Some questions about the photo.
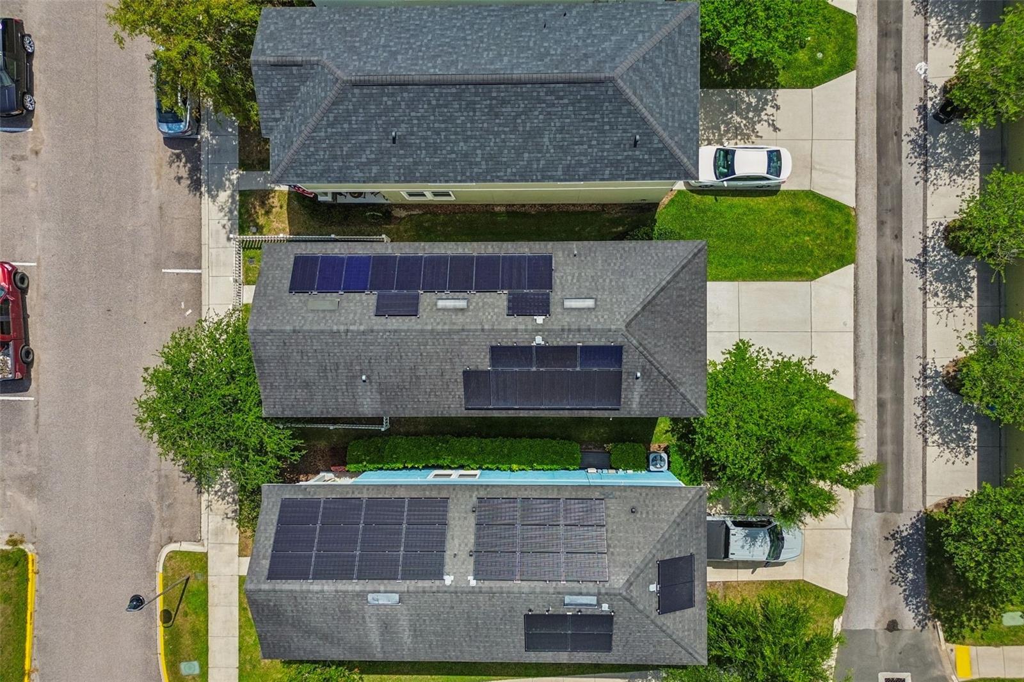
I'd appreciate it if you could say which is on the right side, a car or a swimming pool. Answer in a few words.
car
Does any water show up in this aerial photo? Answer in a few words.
No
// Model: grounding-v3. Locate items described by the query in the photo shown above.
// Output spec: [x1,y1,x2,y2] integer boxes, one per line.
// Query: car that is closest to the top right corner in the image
[691,141,791,189]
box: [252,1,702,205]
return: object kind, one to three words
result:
house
